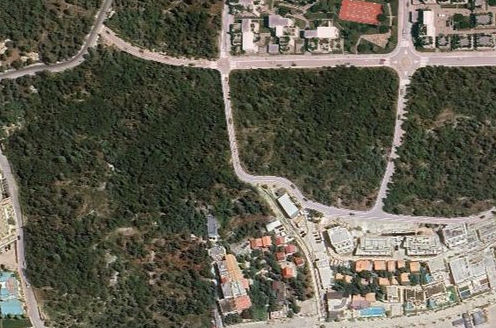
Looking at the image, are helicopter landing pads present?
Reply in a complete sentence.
No, no helicopter landing pad is visible in the view.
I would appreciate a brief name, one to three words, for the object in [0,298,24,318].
swimming pool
